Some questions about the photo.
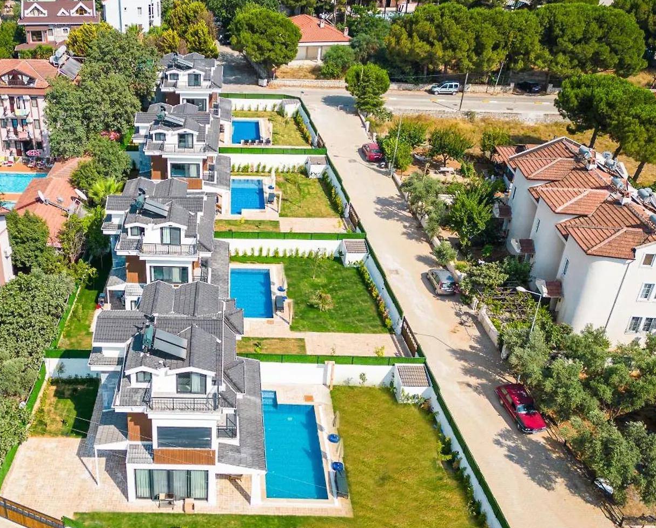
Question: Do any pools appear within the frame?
Yes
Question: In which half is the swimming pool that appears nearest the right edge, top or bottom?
bottom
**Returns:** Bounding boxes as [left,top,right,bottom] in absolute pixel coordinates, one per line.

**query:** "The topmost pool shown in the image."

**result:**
[234,120,264,145]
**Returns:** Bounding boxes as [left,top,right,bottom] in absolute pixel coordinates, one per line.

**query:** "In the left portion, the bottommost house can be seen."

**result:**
[92,277,268,508]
